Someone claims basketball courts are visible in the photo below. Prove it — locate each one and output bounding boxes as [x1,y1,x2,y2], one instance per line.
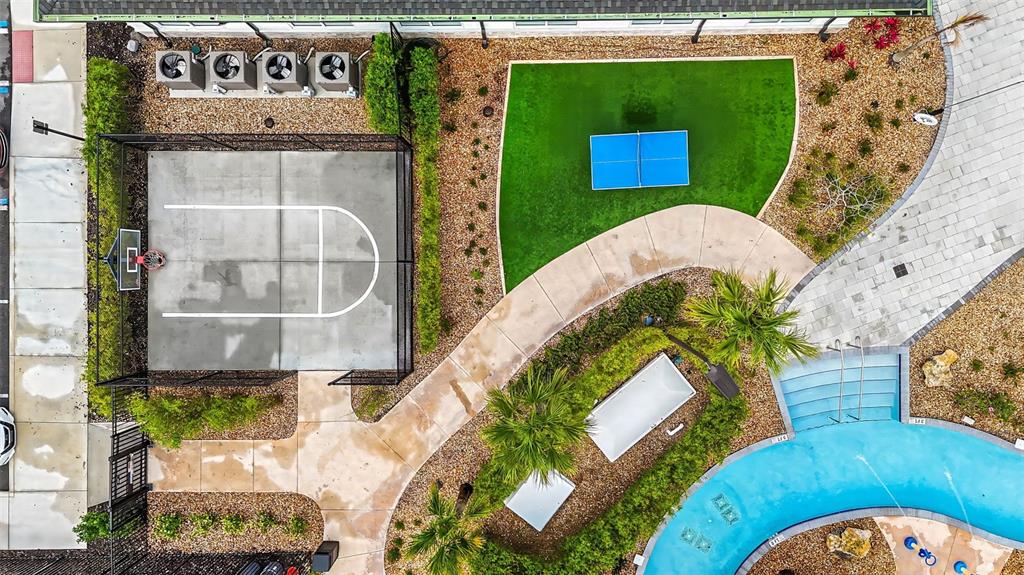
[148,151,412,371]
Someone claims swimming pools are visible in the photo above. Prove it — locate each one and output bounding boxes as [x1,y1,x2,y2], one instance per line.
[635,344,1024,575]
